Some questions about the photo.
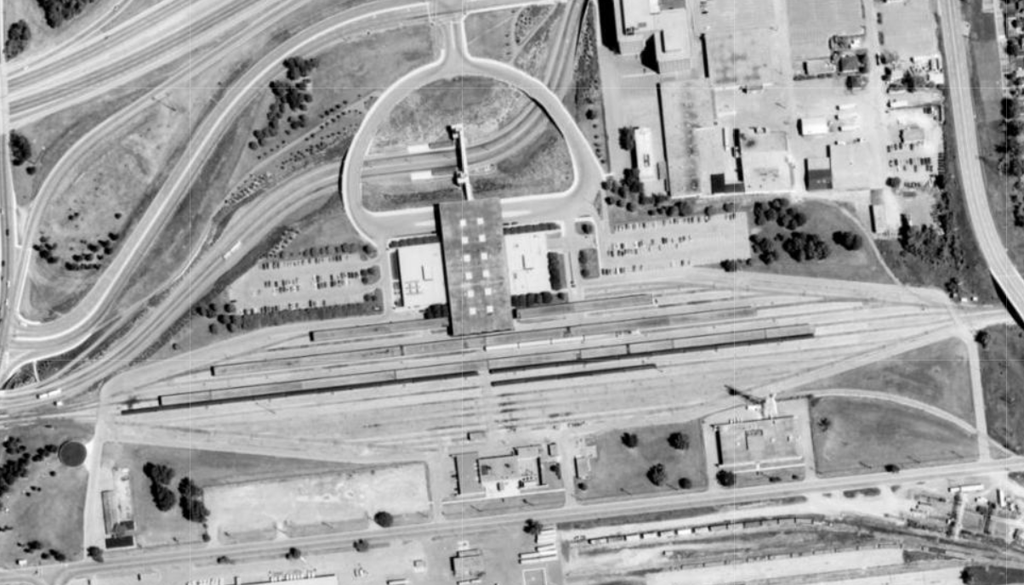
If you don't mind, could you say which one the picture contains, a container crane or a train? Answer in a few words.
train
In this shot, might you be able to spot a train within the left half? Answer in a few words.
Yes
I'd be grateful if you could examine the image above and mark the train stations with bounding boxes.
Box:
[398,198,553,337]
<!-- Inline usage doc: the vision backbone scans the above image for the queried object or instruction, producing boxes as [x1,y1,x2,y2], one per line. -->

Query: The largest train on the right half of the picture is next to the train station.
[491,334,814,374]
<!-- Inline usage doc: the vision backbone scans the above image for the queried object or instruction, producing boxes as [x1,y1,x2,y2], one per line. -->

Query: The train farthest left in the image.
[122,372,478,415]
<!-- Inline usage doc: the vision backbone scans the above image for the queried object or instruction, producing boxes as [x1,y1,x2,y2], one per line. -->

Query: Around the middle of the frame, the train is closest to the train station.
[486,336,584,351]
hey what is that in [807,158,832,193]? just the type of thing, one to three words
building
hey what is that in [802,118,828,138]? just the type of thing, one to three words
shed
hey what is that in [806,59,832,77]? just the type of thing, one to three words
building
